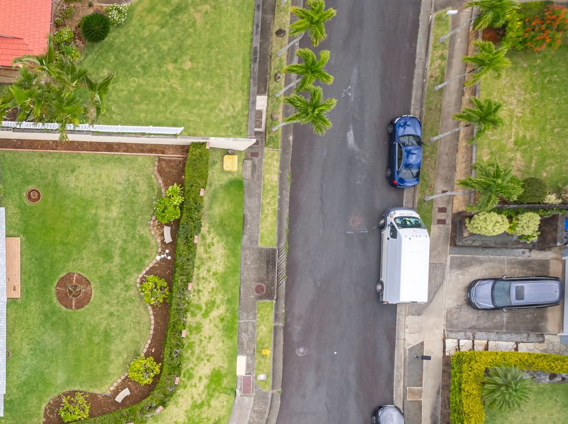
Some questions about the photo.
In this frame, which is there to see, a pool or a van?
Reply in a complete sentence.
Of the two, only a van appears.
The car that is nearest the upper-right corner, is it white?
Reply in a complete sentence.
No, the car that is nearest the upper-right corner is blue.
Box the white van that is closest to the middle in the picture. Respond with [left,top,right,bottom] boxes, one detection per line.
[377,207,430,304]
